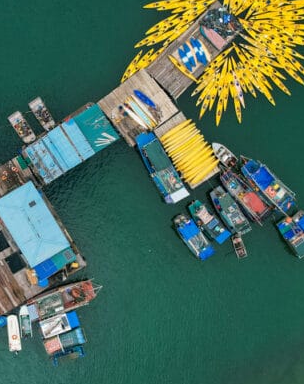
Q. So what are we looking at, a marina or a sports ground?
marina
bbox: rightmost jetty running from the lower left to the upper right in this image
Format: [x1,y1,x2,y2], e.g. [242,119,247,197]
[145,0,246,98]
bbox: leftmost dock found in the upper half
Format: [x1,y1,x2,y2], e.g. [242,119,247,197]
[22,104,122,189]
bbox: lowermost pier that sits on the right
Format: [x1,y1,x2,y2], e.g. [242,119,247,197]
[153,113,220,189]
